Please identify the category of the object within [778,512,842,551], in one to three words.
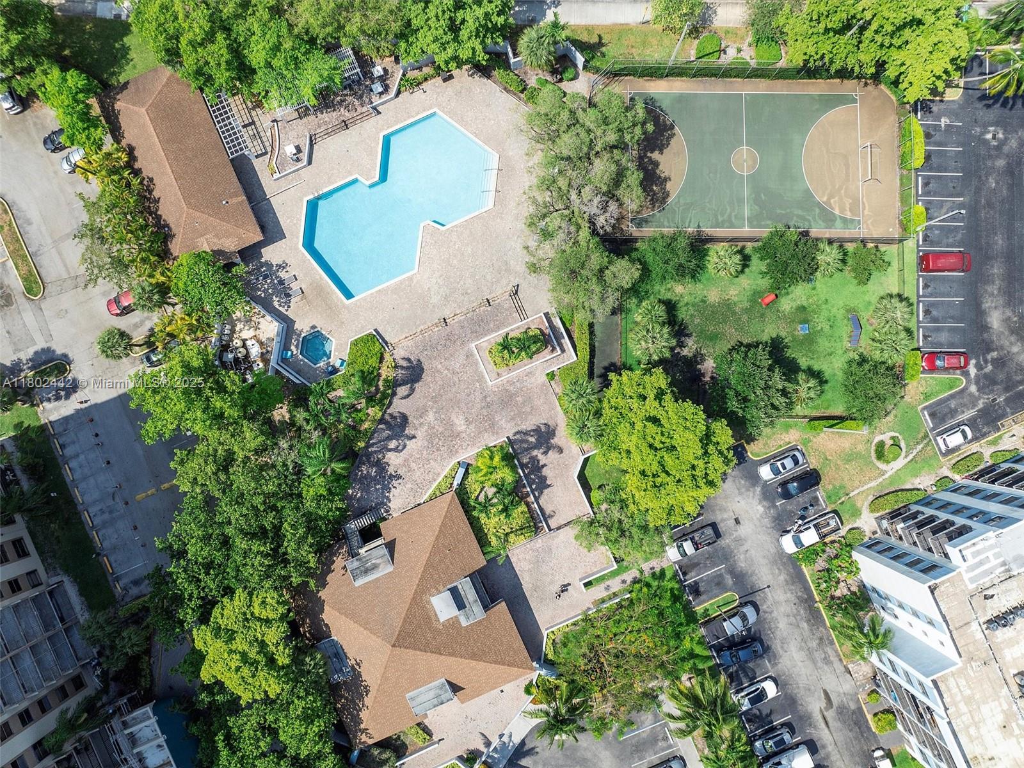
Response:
truck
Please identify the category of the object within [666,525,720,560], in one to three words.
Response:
truck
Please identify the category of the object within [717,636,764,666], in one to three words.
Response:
car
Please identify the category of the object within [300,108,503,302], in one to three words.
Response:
swimming pool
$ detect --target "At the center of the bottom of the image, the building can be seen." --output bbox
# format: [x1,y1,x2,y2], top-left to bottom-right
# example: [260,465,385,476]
[279,460,559,767]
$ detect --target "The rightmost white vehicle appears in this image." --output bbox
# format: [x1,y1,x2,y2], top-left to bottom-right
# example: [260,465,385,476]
[932,425,972,452]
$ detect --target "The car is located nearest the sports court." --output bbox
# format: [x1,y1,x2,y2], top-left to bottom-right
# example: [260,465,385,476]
[916,251,970,273]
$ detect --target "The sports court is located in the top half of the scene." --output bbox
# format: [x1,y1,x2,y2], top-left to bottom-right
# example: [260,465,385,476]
[592,76,899,237]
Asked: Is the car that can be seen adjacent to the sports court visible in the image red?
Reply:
Yes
